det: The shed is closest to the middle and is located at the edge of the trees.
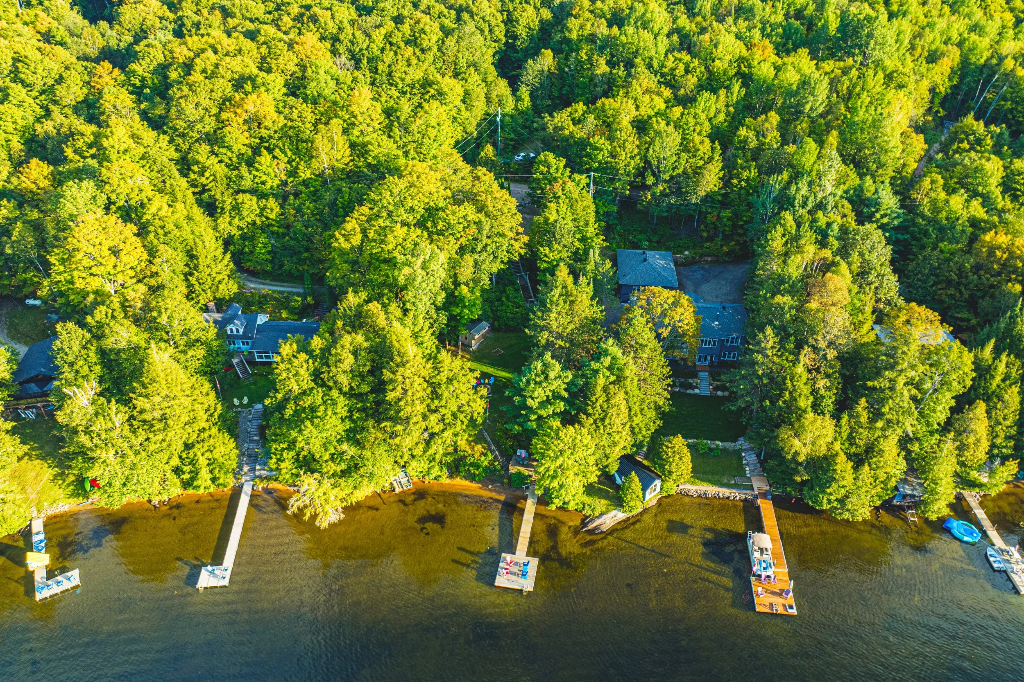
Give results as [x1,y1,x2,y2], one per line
[458,317,490,348]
